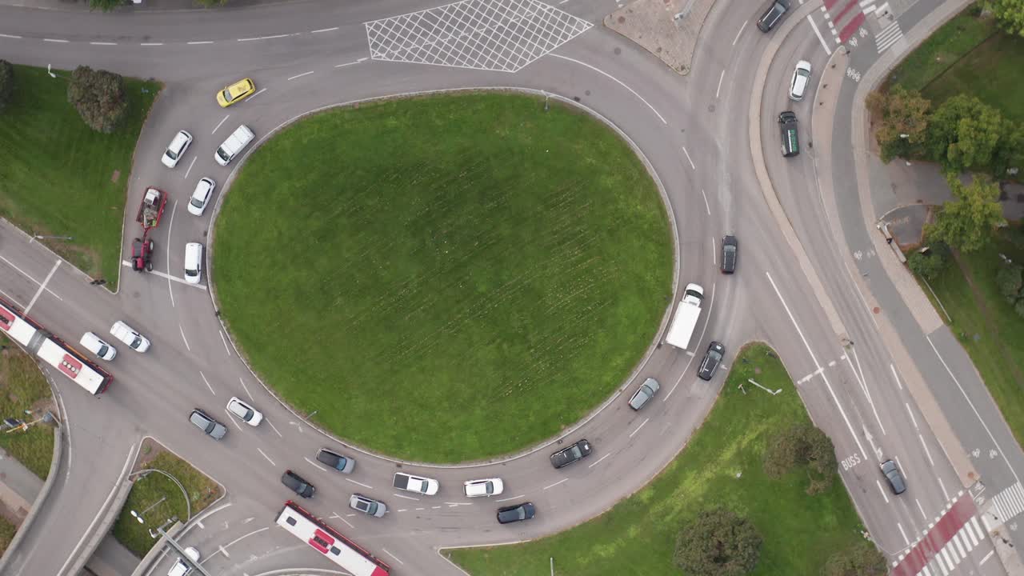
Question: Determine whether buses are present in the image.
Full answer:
Yes, the photo shows a bus.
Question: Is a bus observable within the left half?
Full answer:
Yes, a bus shows up within the left half.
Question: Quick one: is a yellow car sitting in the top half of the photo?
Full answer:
Yes, a yellow car appears in the top half of the photo.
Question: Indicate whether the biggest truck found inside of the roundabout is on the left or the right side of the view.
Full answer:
The biggest truck found inside of the roundabout is on the right side of the image.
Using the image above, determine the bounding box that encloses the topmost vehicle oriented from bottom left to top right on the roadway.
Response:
[756,0,791,34]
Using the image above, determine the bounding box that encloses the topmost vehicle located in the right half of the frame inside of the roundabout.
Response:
[667,284,706,349]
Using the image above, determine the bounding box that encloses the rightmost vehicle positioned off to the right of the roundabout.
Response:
[879,459,906,494]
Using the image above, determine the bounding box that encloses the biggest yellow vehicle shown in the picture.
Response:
[218,79,256,107]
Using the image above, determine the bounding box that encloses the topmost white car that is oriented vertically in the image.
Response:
[788,61,812,101]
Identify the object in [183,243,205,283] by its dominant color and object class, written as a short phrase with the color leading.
white vehicle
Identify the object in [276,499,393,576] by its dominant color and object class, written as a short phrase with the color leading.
white bus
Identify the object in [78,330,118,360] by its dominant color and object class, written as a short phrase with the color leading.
white van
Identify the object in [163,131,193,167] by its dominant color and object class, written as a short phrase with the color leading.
white car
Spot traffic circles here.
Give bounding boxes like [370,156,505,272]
[173,54,713,500]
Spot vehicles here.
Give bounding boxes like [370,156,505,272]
[109,319,151,351]
[217,125,255,165]
[496,502,536,524]
[464,478,503,497]
[394,473,439,496]
[879,459,906,494]
[719,235,739,274]
[163,131,193,167]
[627,377,659,411]
[190,179,217,215]
[696,341,723,380]
[788,61,812,101]
[551,439,591,468]
[280,468,316,499]
[667,284,706,349]
[126,236,153,270]
[756,0,791,34]
[227,396,263,426]
[348,493,387,517]
[189,408,227,439]
[0,292,118,396]
[778,112,800,157]
[144,189,161,206]
[78,330,118,360]
[276,499,393,576]
[218,79,256,107]
[316,447,355,473]
[183,243,205,283]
